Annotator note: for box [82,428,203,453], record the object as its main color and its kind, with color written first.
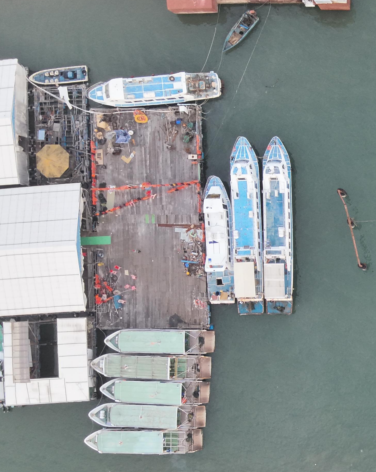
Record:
white ship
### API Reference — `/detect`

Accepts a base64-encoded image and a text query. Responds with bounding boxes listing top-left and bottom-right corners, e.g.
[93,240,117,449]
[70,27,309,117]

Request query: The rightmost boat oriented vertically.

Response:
[262,136,296,314]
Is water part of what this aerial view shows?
Yes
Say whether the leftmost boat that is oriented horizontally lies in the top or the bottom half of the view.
top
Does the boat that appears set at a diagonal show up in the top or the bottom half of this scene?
top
